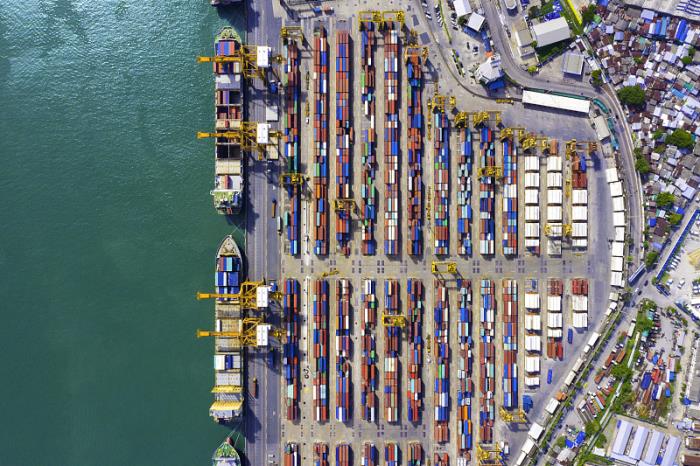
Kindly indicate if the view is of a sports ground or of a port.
port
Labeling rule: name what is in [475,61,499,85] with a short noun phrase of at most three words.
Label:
building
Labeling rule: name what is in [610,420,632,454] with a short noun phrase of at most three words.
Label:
building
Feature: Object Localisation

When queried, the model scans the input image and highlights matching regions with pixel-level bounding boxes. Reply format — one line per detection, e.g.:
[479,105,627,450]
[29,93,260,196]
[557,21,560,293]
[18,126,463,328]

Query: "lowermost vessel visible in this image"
[214,436,242,466]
